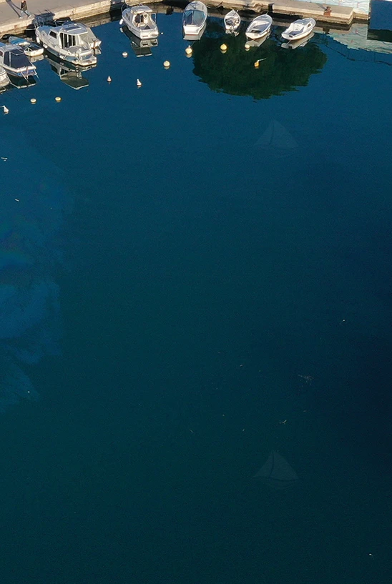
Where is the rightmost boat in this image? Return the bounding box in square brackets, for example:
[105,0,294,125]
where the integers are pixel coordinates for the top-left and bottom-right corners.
[279,19,312,42]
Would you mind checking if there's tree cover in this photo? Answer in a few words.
No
